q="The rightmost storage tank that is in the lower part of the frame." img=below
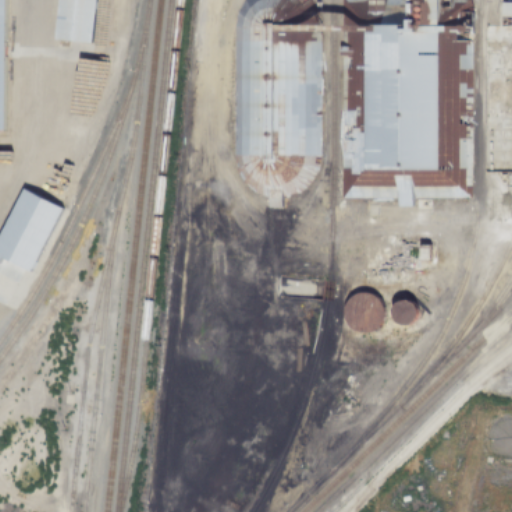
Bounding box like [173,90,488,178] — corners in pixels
[392,298,432,326]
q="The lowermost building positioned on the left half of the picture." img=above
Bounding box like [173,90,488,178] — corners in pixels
[0,188,65,270]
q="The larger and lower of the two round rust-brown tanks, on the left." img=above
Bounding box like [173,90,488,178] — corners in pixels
[344,292,388,332]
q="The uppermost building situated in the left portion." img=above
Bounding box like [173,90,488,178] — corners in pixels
[55,0,97,43]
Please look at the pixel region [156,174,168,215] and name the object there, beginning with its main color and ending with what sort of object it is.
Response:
white rail car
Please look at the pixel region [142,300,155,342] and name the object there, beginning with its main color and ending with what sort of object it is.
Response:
white rail car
